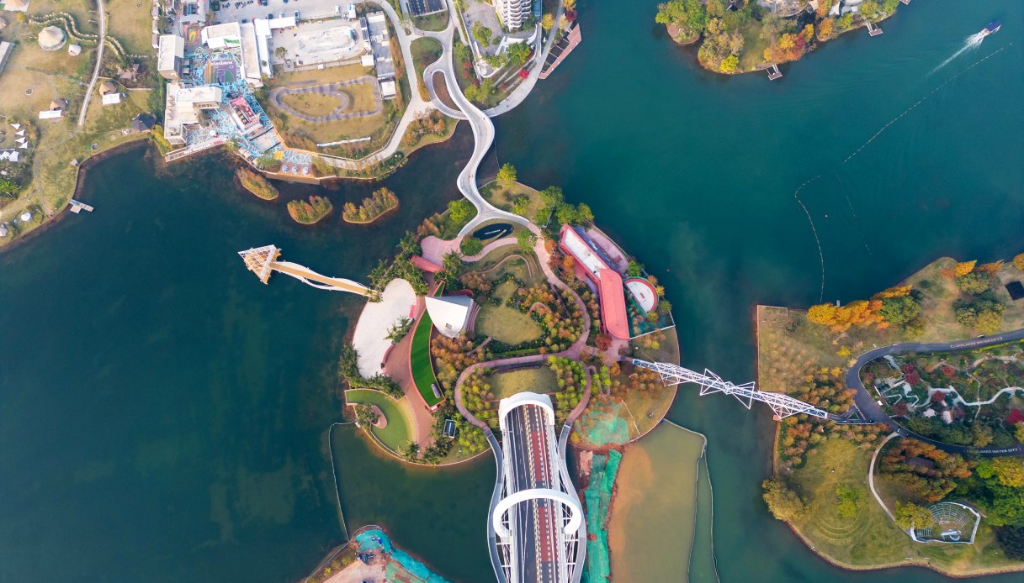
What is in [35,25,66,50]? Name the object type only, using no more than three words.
tent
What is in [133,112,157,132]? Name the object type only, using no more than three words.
shed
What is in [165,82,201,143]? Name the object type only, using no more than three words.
building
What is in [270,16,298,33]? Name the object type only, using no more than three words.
building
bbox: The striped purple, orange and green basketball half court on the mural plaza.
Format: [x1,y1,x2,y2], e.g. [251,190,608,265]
[204,58,236,83]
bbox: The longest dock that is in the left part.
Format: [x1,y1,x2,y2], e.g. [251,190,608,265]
[238,245,376,297]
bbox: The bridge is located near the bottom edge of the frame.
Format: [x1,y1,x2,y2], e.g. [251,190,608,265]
[484,392,587,583]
